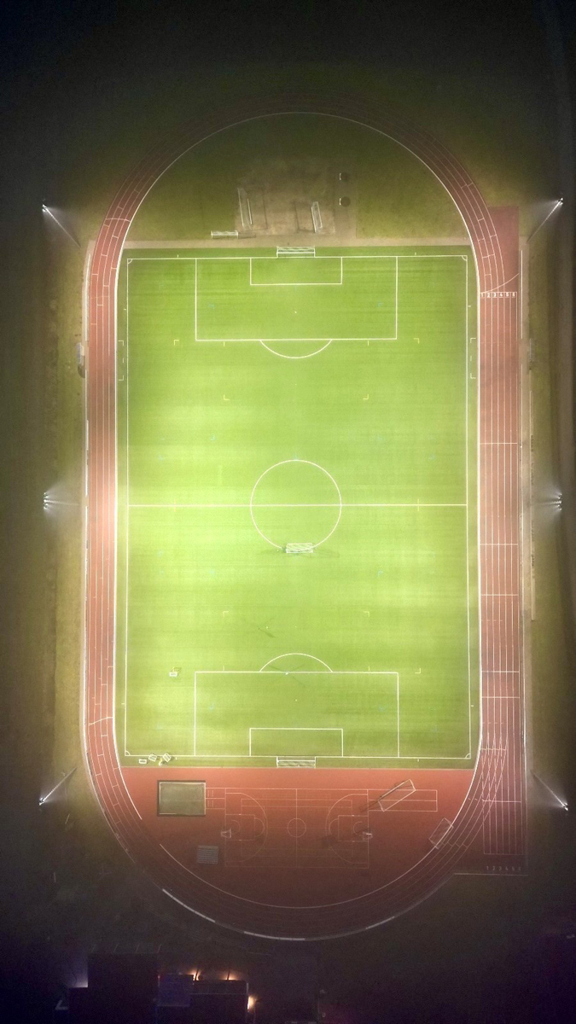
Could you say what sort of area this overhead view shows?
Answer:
sports ground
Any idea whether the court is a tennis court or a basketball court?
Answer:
basketball court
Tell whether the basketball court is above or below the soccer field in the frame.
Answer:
below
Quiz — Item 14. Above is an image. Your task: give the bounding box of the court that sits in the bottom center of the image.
[225,788,368,868]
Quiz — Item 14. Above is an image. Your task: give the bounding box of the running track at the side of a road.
[87,87,526,934]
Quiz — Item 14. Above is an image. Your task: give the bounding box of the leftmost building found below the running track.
[68,944,161,1024]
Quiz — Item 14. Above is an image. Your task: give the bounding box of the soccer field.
[115,245,481,769]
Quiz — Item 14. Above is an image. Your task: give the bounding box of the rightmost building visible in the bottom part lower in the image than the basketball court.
[189,971,249,1024]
